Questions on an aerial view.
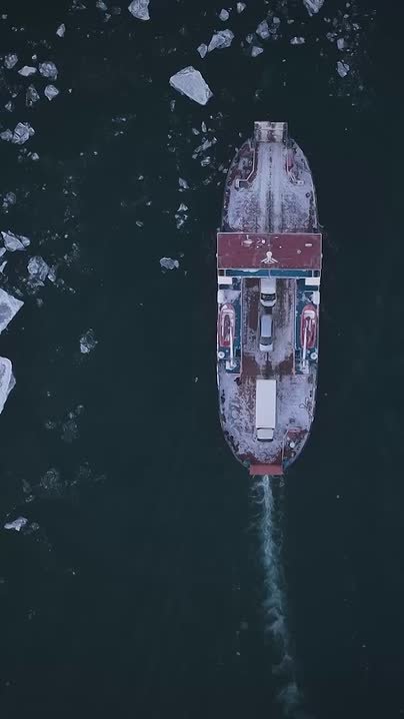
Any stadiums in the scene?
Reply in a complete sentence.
No, I can't see a single stadium in this photo.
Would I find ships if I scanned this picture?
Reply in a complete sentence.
Yes, there's a ship down there.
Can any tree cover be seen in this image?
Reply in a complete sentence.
No, the scene doesn't show any tree cover.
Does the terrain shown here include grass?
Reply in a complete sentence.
No, the picture contains no grass.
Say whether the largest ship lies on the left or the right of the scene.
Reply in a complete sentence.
You can find the largest ship on the right side of the picture.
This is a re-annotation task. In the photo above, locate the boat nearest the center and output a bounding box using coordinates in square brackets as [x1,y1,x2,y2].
[220,303,235,346]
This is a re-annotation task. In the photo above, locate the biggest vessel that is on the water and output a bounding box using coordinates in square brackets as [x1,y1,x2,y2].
[216,120,324,480]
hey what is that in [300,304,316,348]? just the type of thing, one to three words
boat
